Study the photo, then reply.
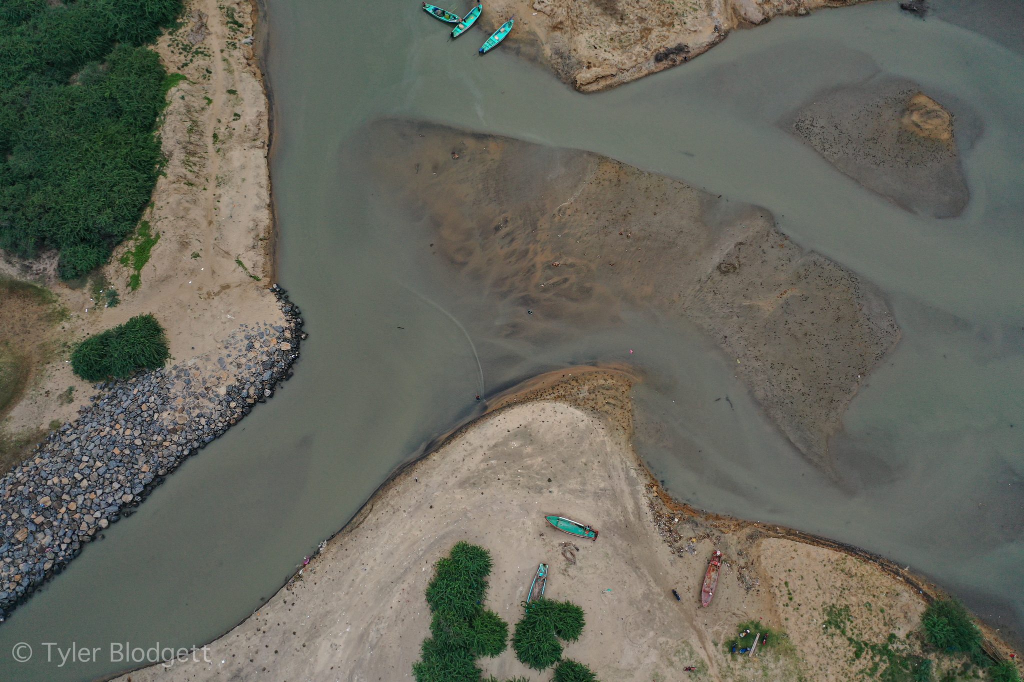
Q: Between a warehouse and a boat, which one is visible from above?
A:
boat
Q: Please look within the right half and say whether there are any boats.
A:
Yes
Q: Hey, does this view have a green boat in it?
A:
Yes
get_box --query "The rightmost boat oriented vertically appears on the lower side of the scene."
[703,552,723,608]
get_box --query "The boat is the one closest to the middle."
[545,516,599,540]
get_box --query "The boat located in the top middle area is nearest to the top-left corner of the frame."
[416,1,461,22]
